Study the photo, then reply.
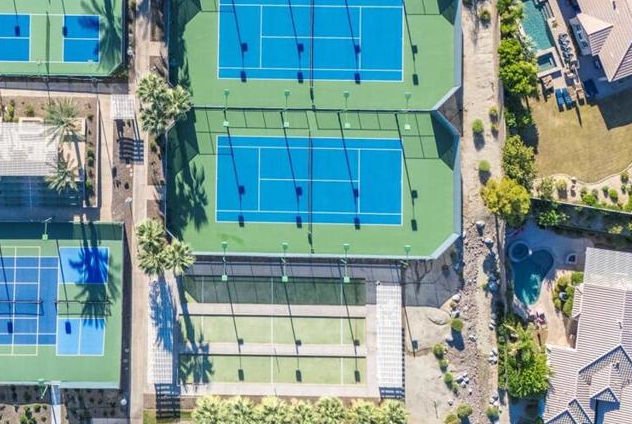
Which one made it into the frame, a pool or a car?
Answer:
pool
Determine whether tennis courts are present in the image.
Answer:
Yes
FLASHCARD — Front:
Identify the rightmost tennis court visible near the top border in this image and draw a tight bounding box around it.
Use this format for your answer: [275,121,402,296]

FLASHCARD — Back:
[169,0,454,110]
